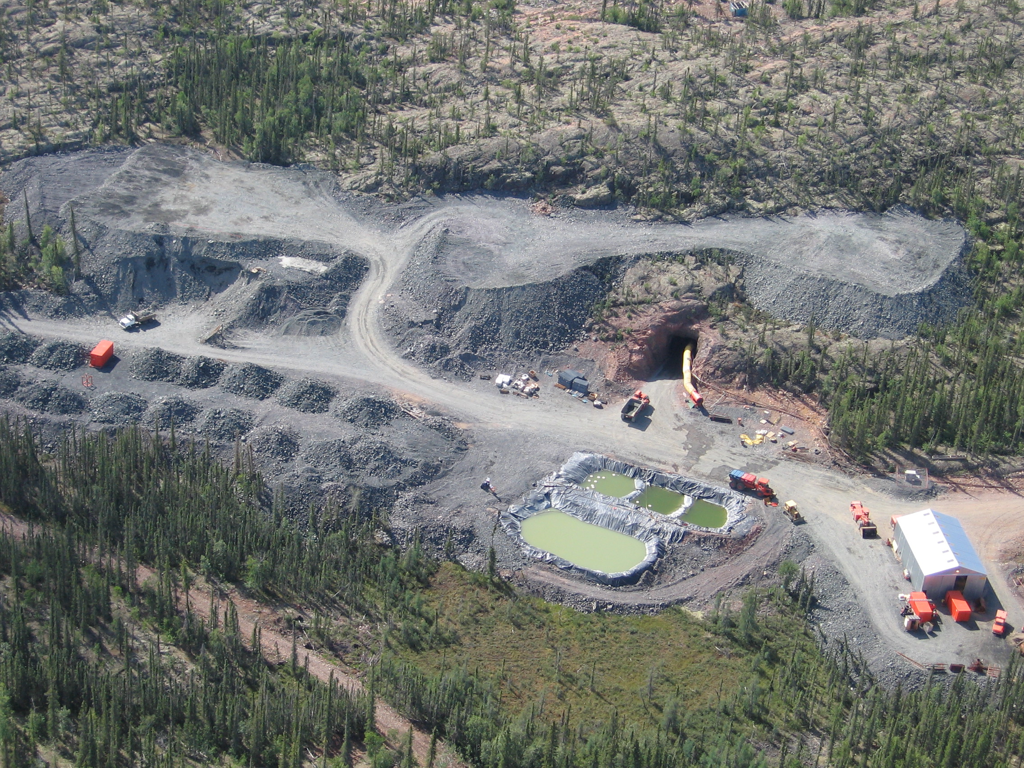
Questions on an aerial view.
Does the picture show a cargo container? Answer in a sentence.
Yes, there is a cargo container in the image.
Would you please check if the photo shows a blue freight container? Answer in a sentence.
No, I find no blue freight container anywhere in the image.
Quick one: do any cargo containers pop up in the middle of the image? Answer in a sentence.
No, looking in the middle of the image, there is no cargo container.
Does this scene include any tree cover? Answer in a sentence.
Yes, tree cover can be seen from above here.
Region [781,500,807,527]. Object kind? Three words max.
work vehicle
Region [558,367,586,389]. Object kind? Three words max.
shed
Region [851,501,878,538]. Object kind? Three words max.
work vehicle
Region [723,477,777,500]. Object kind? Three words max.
truck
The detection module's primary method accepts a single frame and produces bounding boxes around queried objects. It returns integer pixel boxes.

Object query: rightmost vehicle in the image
[993,609,1009,634]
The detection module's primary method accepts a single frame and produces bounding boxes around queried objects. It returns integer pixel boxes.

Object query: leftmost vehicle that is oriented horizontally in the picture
[117,312,161,331]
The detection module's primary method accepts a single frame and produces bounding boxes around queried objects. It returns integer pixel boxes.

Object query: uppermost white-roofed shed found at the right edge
[898,506,990,592]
